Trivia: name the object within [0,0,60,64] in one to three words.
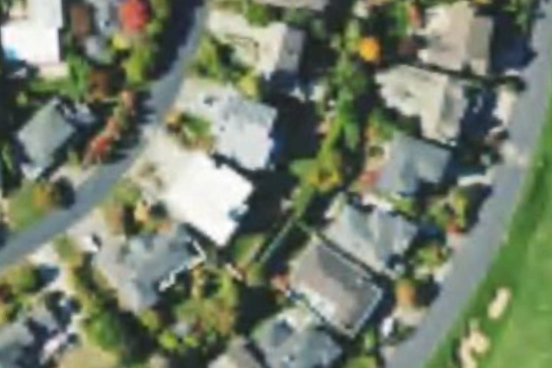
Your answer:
house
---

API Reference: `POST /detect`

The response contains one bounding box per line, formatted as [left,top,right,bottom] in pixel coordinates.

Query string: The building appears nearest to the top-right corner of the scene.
[420,0,496,74]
